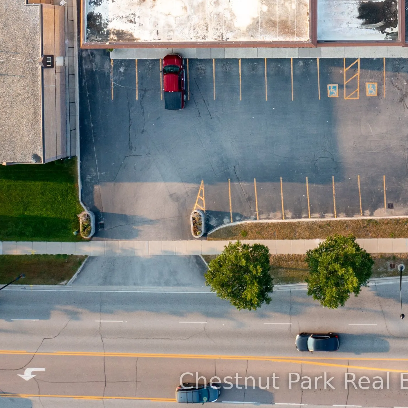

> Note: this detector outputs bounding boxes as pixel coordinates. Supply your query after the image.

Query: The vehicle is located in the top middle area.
[161,53,186,110]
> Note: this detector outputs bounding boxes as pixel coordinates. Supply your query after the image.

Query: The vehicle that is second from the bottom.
[294,332,341,355]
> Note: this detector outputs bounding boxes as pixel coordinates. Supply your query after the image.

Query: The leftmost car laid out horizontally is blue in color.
[174,382,223,406]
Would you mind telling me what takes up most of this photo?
paved ground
